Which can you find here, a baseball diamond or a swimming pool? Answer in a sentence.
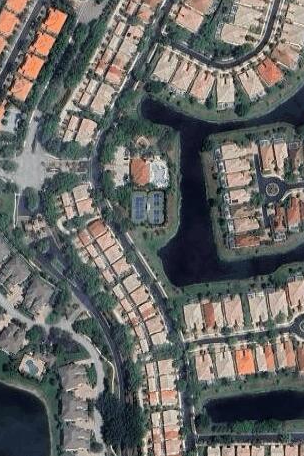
This aerial view contains a swimming pool.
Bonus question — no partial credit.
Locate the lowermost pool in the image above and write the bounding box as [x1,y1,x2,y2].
[20,355,45,380]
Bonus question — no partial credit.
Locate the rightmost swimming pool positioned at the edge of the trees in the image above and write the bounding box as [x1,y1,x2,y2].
[150,159,169,188]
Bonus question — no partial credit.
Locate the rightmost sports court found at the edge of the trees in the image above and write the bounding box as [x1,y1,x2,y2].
[149,190,164,224]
